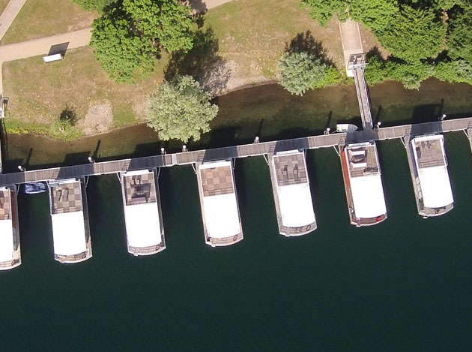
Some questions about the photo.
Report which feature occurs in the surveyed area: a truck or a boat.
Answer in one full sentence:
Visible in the photo is a boat.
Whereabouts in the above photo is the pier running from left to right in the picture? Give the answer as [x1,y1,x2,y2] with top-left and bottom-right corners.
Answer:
[0,117,472,197]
